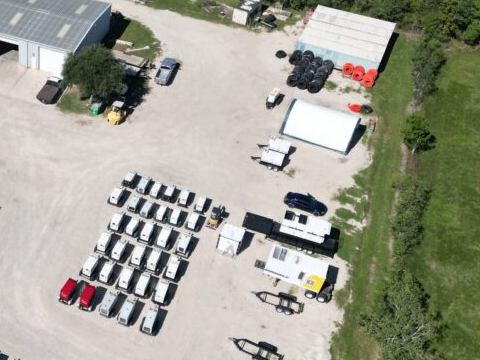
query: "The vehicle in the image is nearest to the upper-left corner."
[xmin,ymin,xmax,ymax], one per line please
[34,76,68,105]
